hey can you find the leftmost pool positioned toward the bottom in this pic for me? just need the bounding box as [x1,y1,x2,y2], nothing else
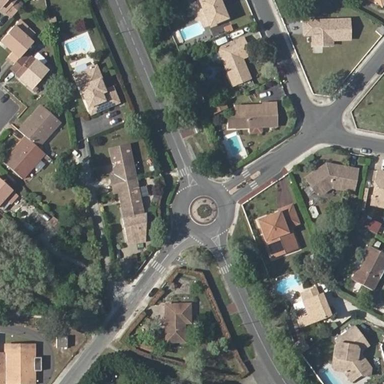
[276,274,300,294]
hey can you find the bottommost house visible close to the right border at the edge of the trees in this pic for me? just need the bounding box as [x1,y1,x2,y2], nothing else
[334,326,374,383]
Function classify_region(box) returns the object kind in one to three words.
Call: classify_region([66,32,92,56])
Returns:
swimming pool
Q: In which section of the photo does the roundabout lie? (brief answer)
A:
center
